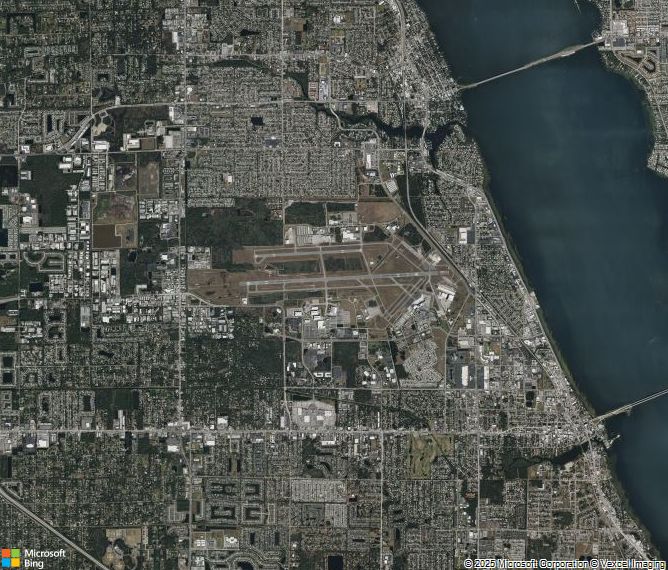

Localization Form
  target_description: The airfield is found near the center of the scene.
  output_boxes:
[187,227,470,331]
